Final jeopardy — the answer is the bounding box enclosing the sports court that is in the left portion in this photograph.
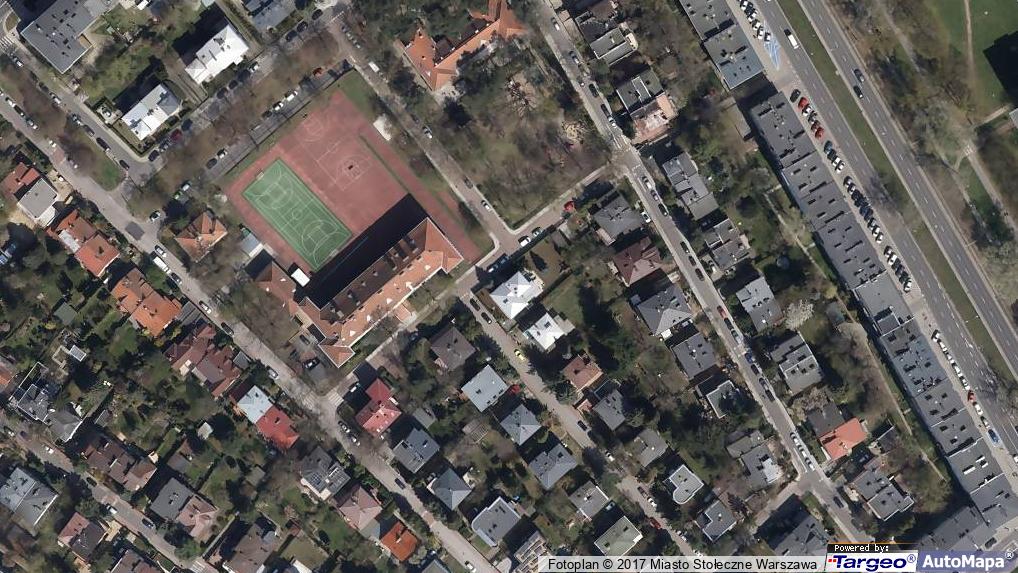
[242,159,352,272]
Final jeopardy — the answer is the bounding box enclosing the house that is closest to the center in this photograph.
[490,269,544,318]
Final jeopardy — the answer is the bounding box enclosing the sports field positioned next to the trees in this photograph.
[229,92,479,308]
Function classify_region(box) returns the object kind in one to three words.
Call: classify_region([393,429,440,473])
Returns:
house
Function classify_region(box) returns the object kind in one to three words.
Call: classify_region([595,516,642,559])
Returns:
house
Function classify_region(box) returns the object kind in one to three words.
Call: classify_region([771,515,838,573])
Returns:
building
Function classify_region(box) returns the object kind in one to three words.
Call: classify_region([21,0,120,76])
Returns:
building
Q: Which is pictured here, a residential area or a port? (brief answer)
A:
residential area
